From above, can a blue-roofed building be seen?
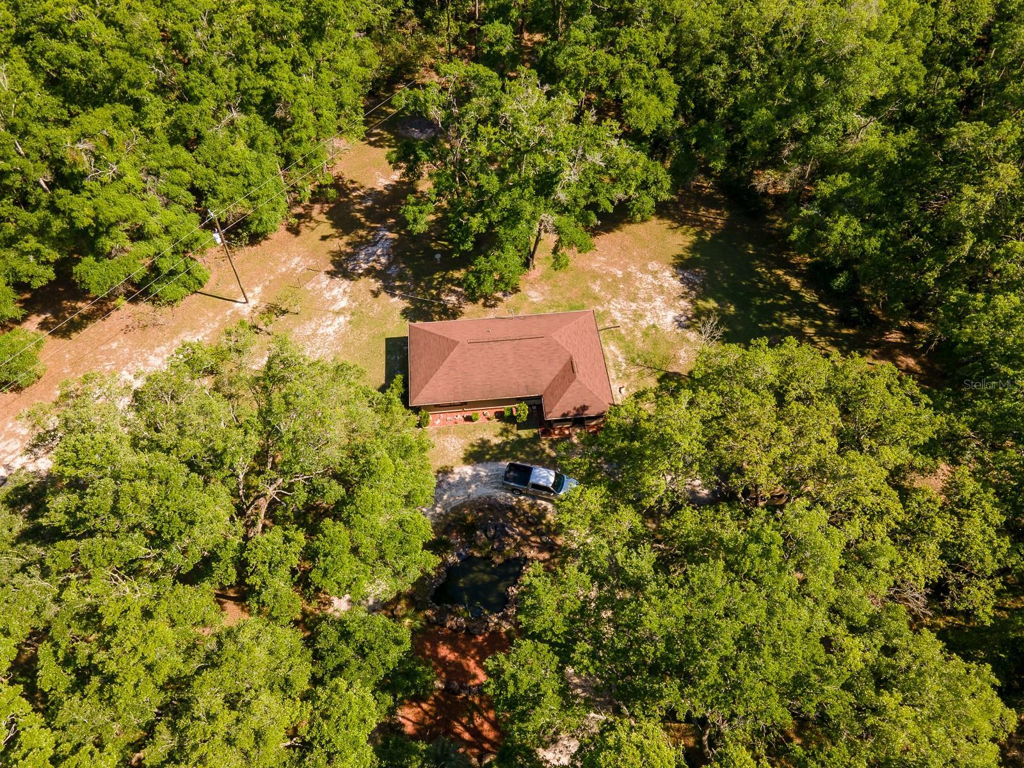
No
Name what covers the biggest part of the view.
trees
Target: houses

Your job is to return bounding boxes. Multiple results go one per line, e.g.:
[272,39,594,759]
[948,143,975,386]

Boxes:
[408,301,615,425]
